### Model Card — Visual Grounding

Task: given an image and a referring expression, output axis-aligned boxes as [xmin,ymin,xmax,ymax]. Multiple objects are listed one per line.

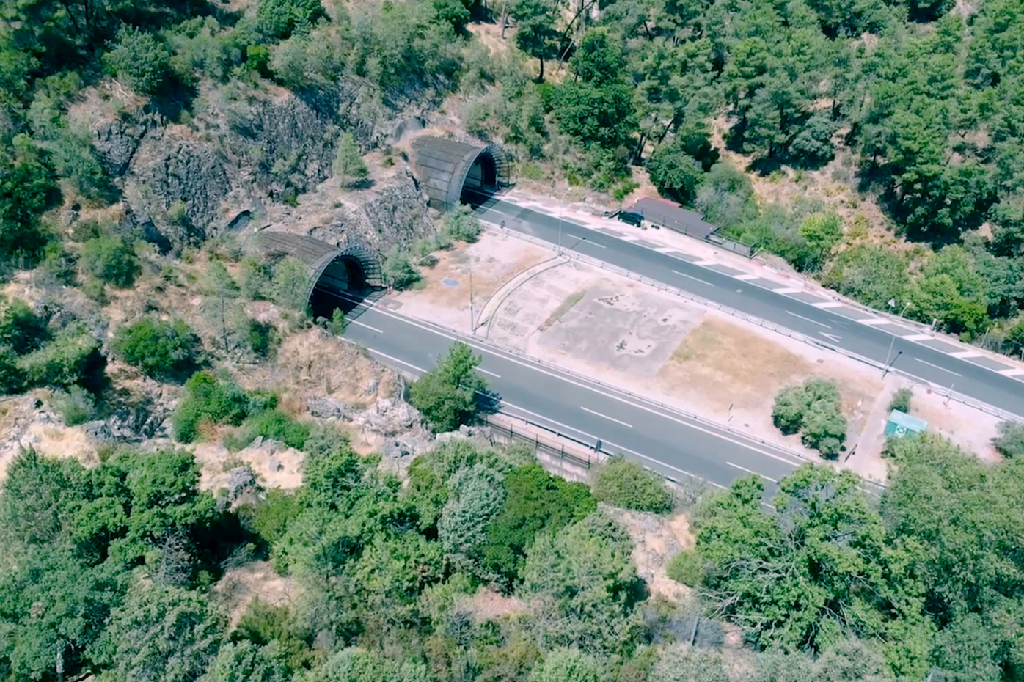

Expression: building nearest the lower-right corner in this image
[886,408,934,448]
